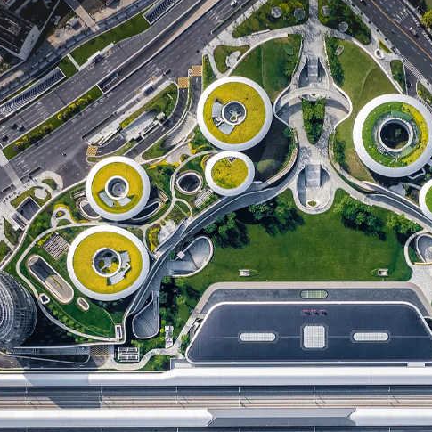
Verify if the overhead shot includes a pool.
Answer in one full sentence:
No, there's no pool here.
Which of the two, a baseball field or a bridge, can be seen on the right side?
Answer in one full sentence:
What appears on the right side is a bridge.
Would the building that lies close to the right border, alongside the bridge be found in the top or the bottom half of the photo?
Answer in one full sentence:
The building that lies close to the right border, alongside the bridge is in the top half of the image.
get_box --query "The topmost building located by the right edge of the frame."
[353,94,432,178]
